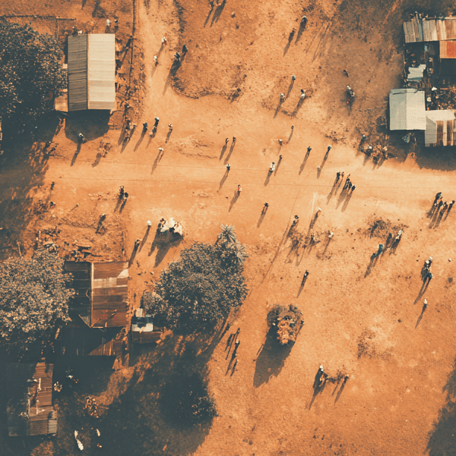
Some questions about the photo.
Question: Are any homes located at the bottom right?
No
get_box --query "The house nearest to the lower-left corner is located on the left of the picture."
[5,363,57,439]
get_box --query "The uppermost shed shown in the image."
[404,15,456,46]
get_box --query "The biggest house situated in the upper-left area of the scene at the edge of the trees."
[66,29,118,110]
